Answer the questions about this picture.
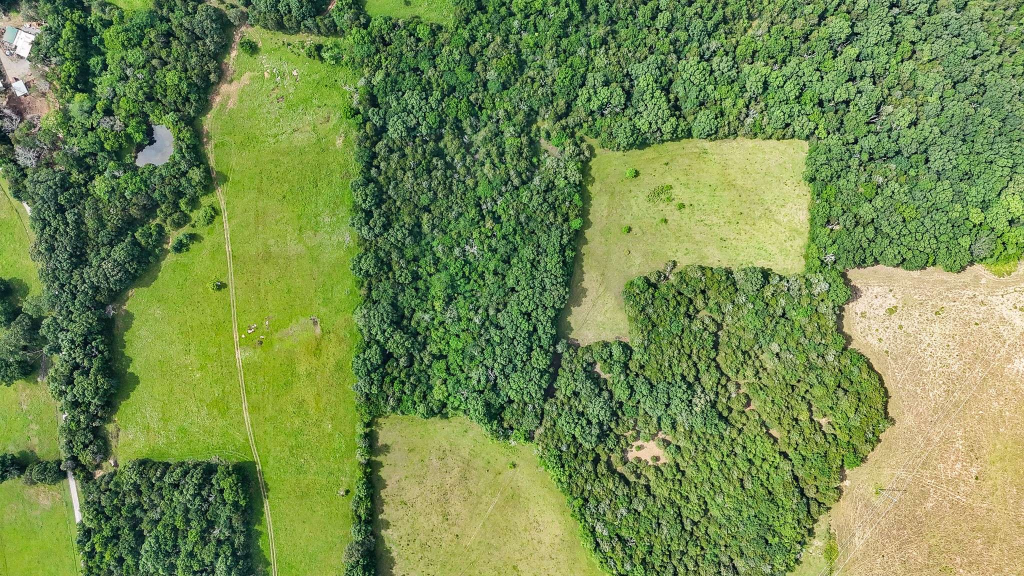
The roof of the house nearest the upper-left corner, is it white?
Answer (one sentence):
Yes, the roof of the house nearest the upper-left corner is indeed white.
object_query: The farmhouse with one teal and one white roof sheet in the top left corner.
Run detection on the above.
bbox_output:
[2,26,35,56]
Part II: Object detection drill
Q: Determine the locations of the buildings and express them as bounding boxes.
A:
[2,26,35,56]
[12,80,31,98]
